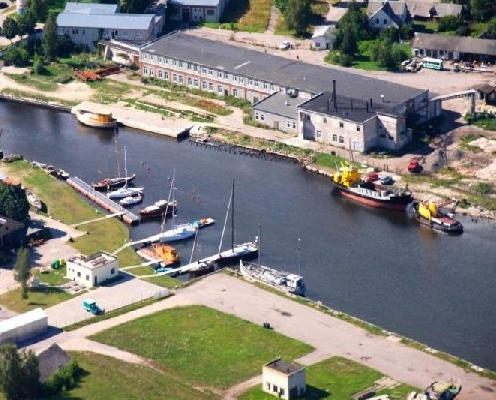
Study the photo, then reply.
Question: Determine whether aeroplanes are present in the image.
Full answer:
No, no aeroplane is visible in the scene.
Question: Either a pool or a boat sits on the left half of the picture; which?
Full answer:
Visible on the left half of the picture is a boat.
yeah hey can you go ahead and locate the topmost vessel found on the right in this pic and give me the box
[337,160,414,211]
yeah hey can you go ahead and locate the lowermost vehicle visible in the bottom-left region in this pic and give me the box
[82,293,103,312]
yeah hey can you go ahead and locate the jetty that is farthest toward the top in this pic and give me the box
[72,100,192,141]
